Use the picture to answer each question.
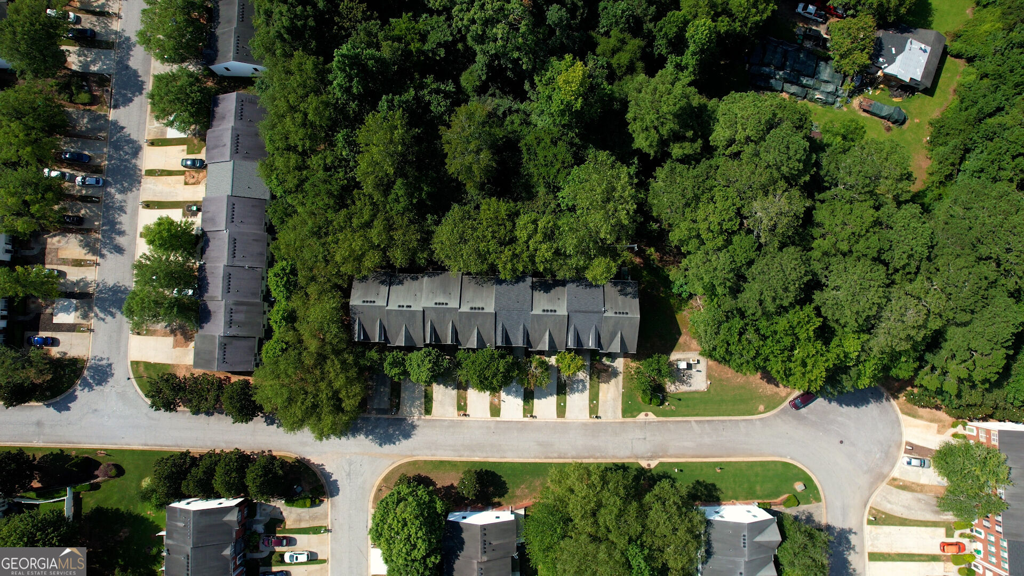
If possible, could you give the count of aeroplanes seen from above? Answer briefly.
0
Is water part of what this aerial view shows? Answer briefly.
No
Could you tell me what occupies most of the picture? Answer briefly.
trees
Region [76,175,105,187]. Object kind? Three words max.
vehicle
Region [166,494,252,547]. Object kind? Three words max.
house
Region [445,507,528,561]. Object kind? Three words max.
house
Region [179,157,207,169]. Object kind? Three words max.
vehicle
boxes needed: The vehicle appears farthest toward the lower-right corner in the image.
[938,541,966,555]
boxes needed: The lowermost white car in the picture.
[284,550,311,564]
